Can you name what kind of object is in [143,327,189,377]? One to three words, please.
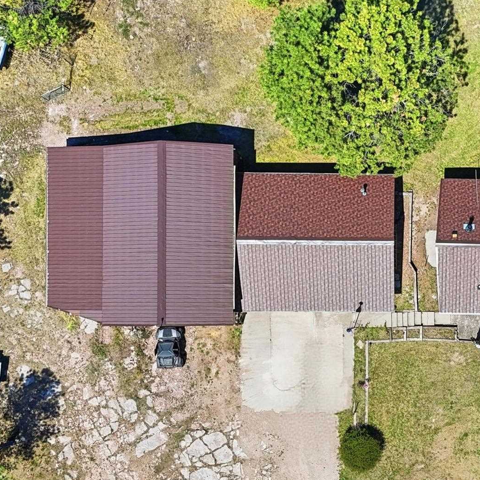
vehicle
